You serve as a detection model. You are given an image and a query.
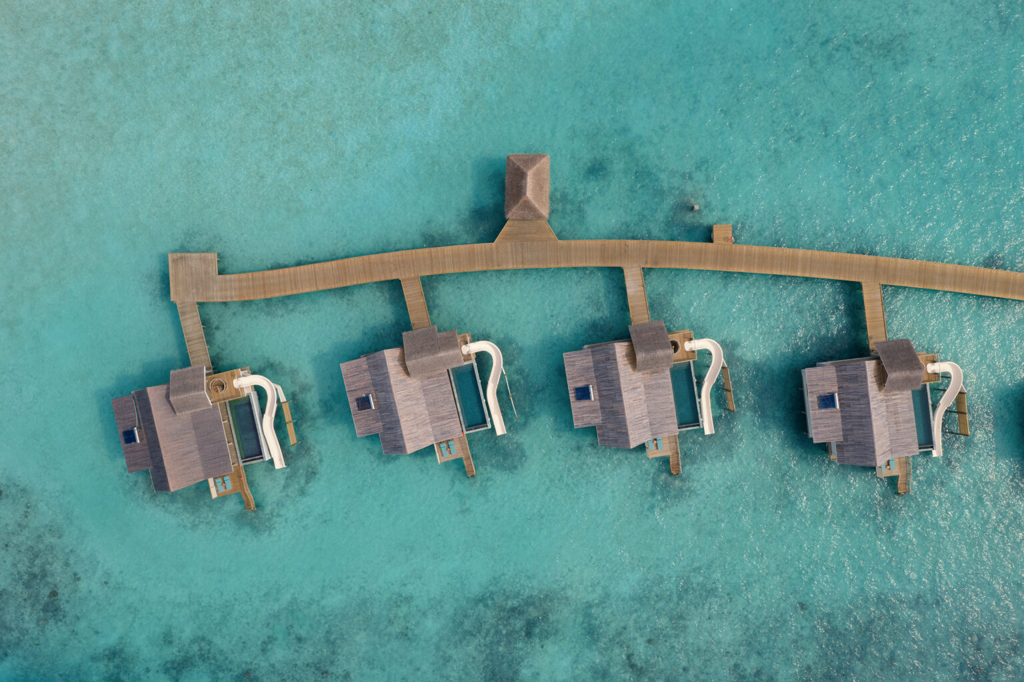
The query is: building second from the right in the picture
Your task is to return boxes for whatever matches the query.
[563,319,697,474]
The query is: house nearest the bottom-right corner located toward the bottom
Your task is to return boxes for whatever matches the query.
[795,339,941,495]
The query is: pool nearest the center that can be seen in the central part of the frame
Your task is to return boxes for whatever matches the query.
[450,361,490,433]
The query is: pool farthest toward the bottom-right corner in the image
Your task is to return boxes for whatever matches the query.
[913,384,935,450]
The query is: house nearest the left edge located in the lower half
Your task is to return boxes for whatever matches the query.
[111,364,271,510]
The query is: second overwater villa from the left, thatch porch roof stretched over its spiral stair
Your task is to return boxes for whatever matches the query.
[340,324,478,476]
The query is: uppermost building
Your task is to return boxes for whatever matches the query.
[505,153,551,221]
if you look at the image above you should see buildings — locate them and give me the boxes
[563,319,697,474]
[340,324,478,476]
[505,153,551,221]
[111,364,271,510]
[795,339,941,495]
